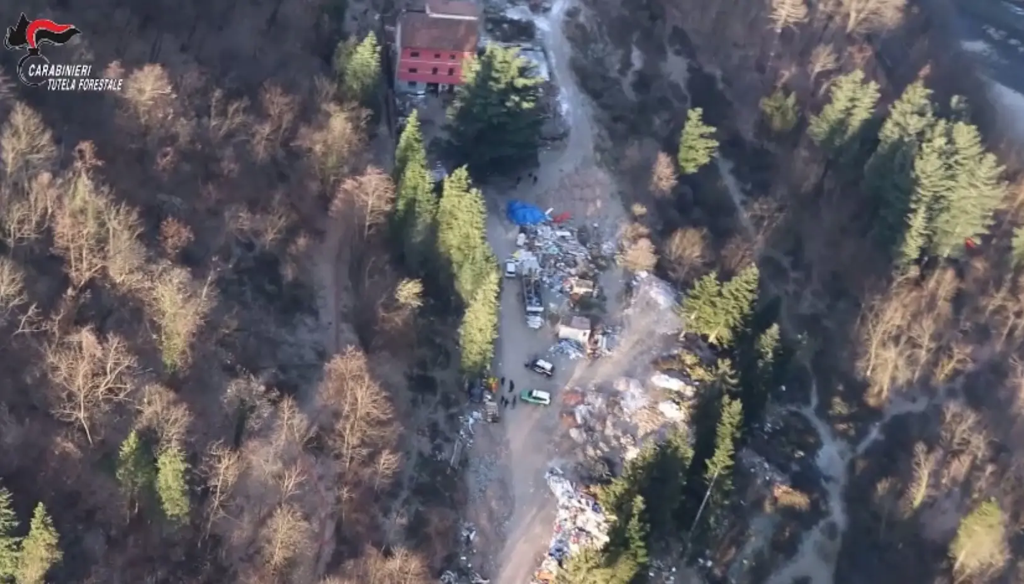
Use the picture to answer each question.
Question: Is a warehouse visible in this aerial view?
No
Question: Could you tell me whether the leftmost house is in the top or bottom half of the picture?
top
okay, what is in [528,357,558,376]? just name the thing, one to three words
car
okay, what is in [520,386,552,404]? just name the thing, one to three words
car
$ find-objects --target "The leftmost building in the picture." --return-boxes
[398,0,489,99]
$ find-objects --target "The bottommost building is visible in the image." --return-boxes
[559,310,594,343]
